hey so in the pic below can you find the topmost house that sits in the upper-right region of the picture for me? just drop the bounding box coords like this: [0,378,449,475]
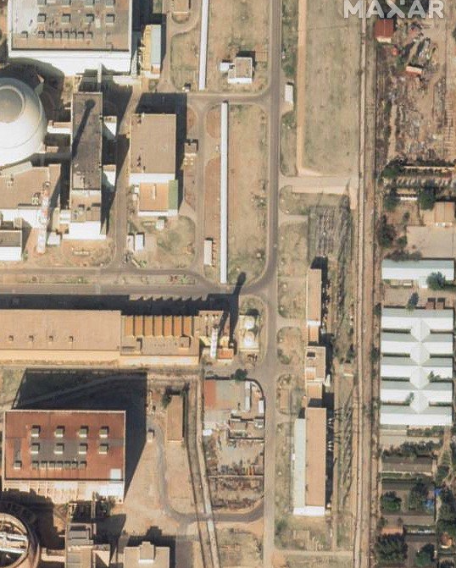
[375,19,394,40]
